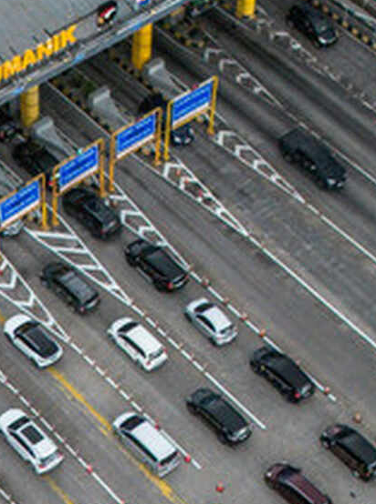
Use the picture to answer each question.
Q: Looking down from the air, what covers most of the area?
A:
paved ground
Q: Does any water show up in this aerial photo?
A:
No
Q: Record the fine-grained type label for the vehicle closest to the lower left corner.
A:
automobile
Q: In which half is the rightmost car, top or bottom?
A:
bottom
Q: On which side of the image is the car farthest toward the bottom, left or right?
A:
right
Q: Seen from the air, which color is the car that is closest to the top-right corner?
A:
black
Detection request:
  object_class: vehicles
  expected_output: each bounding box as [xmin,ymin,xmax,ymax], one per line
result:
[127,240,186,292]
[5,135,60,182]
[66,191,121,239]
[282,126,341,182]
[285,0,336,45]
[265,463,329,504]
[109,322,164,374]
[42,262,100,315]
[252,349,313,403]
[319,423,376,483]
[5,316,59,367]
[1,415,57,470]
[0,218,27,240]
[188,390,252,448]
[114,415,177,475]
[185,302,235,346]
